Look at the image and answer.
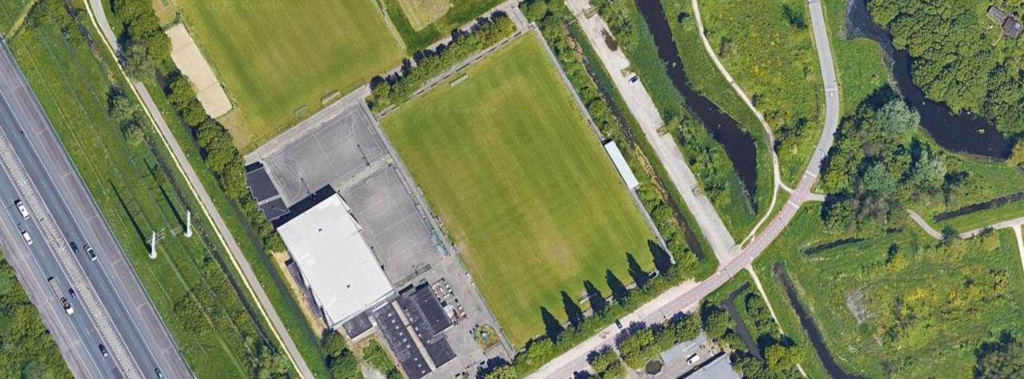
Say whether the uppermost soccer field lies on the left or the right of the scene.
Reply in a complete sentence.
It is on the left.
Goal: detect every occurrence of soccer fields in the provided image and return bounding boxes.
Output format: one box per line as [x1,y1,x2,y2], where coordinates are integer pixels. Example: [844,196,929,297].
[172,0,407,147]
[384,33,671,348]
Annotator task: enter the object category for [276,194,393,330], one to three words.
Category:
building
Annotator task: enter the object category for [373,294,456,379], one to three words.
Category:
building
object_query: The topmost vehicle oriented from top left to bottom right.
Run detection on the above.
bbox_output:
[16,200,30,220]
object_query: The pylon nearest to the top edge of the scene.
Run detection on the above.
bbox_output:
[177,210,193,239]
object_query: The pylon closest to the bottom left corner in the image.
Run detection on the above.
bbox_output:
[149,232,161,261]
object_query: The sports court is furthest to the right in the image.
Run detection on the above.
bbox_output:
[342,162,447,284]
